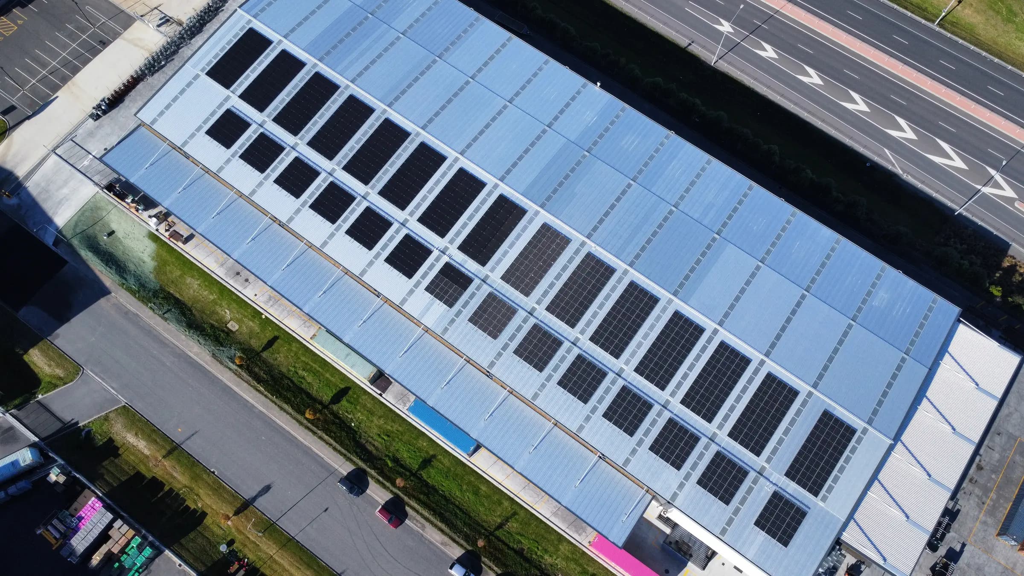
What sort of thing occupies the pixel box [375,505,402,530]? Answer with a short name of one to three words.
car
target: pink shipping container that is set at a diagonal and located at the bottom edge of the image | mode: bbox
[588,534,657,576]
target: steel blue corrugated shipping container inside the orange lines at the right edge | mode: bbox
[996,476,1024,545]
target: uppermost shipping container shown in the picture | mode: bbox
[311,328,379,383]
